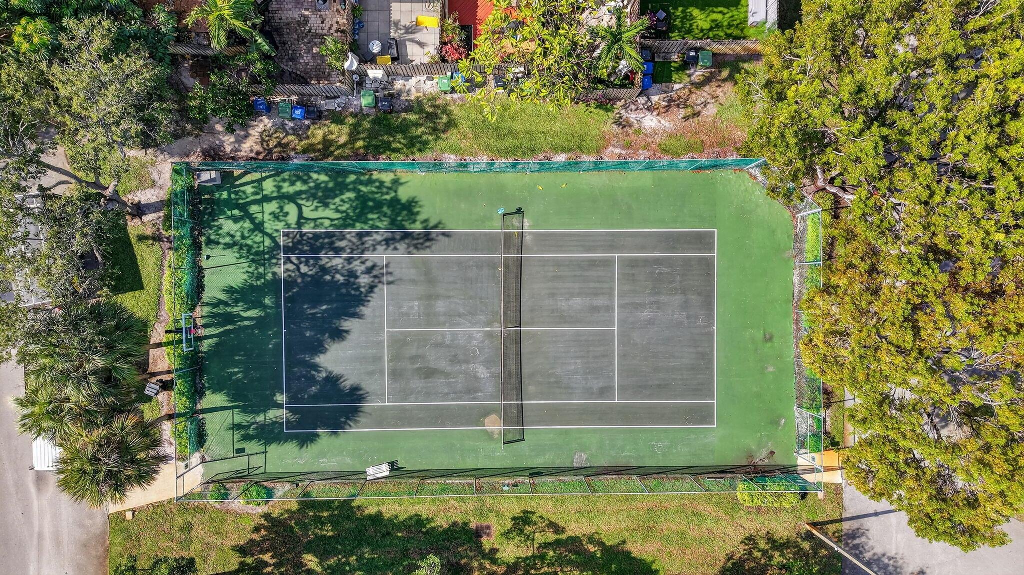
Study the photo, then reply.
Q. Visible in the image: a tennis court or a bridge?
tennis court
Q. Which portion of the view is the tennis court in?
center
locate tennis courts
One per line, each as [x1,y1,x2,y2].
[206,172,793,475]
